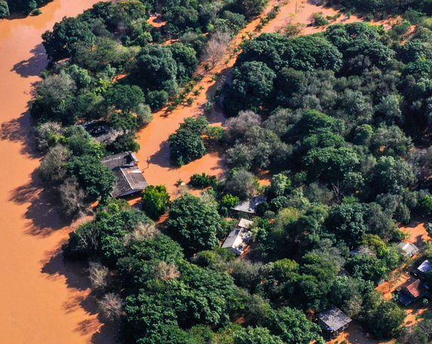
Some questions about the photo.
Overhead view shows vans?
No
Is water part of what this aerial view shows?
Yes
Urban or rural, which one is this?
rural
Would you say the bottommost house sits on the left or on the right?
right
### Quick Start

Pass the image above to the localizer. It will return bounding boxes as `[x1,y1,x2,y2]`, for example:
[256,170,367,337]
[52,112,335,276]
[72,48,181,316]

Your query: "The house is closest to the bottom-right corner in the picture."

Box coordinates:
[393,280,431,310]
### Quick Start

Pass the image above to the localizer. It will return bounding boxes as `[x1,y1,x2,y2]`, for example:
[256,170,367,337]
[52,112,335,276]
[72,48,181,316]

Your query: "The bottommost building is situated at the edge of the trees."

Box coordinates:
[318,307,350,337]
